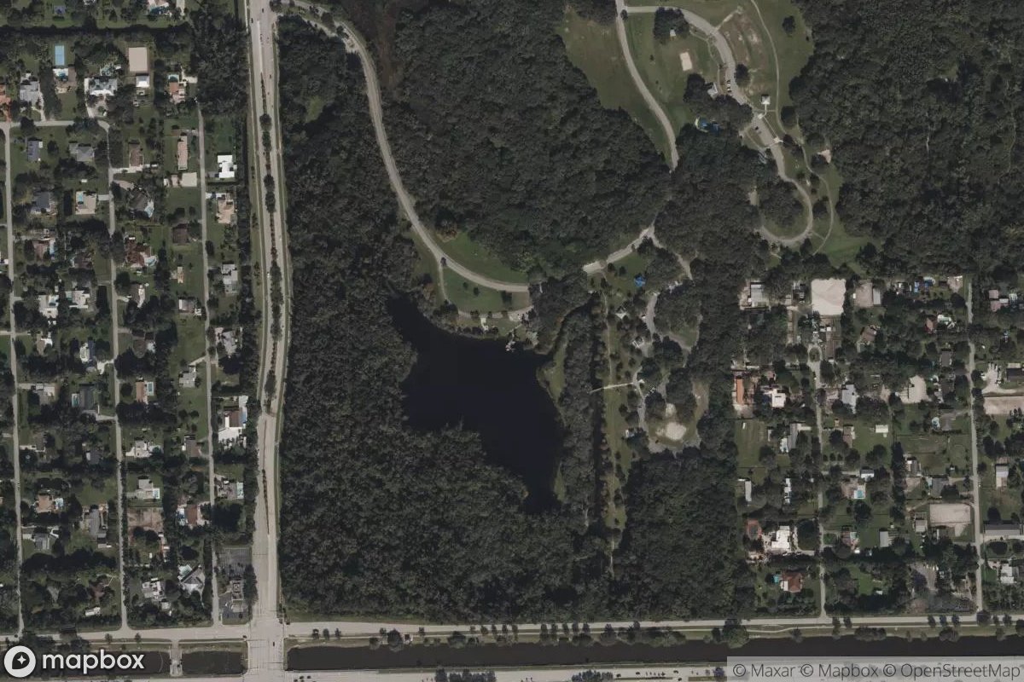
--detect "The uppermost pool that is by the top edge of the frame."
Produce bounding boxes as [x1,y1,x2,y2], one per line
[150,3,171,16]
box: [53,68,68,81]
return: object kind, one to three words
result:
swimming pool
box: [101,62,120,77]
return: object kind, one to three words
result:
swimming pool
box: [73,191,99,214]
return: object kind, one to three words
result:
house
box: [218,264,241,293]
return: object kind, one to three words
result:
house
